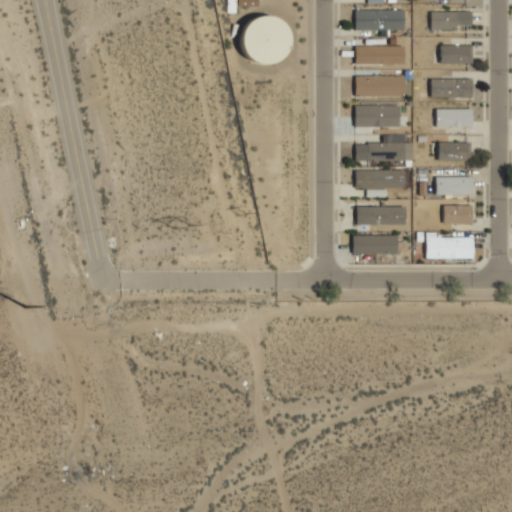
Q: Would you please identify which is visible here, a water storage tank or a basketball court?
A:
water storage tank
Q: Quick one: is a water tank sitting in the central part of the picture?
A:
No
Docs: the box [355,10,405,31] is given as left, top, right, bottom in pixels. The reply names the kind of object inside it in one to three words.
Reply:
house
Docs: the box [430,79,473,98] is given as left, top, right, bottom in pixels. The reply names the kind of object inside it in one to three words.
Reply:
house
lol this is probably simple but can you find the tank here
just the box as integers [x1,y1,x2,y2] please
[240,14,293,66]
